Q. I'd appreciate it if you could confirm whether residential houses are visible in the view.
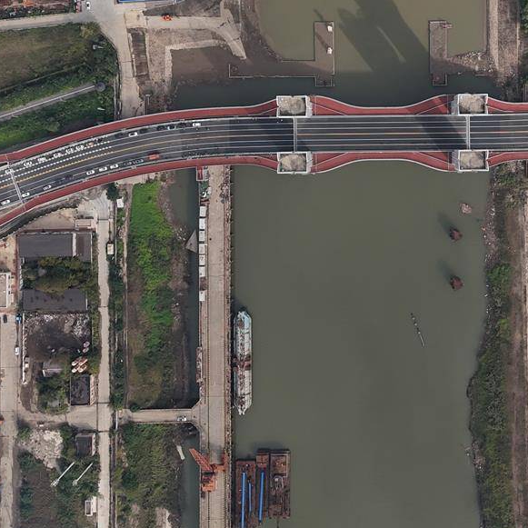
Yes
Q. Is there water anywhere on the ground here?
Yes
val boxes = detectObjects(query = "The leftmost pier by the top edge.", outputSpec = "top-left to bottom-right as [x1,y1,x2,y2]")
[229,22,334,86]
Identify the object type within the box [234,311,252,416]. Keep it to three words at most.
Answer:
ship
